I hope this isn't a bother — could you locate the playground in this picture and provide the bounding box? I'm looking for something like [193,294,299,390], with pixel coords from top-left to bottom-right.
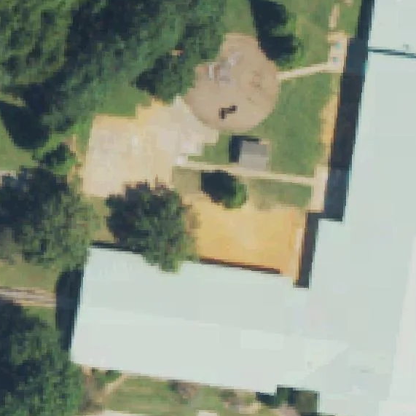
[188,34,278,131]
